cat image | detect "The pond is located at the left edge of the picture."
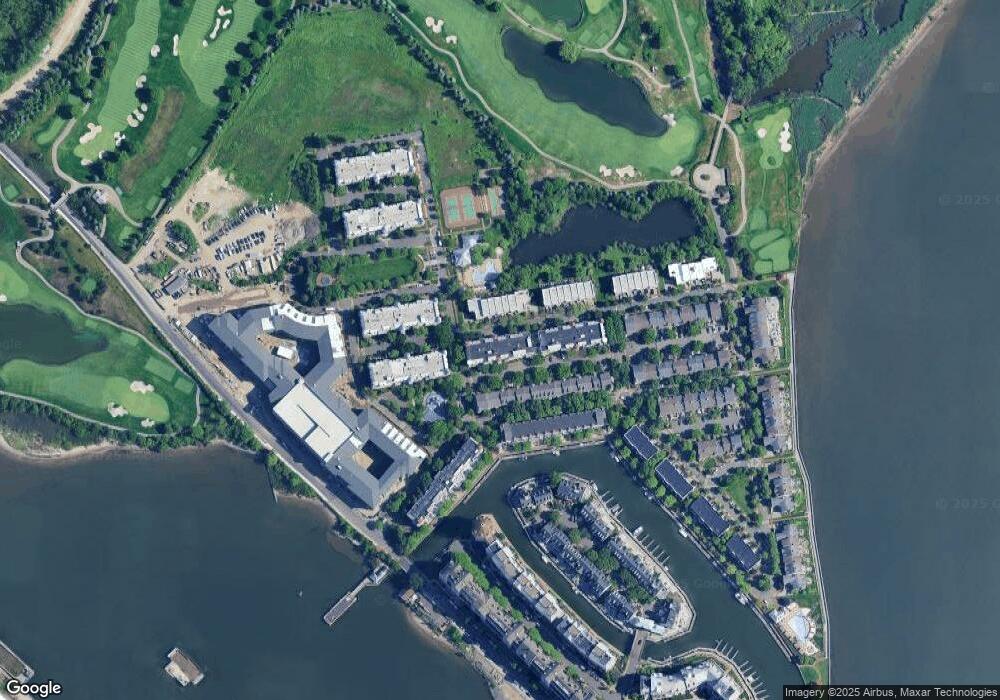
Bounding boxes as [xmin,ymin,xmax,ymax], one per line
[0,304,108,368]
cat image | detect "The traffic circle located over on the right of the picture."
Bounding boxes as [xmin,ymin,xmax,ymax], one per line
[691,163,729,195]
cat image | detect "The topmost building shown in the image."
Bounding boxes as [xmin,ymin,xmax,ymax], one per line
[334,147,414,186]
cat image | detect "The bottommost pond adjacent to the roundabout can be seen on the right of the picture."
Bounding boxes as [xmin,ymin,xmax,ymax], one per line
[511,198,699,265]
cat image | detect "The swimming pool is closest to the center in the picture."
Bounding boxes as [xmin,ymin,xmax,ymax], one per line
[460,258,502,288]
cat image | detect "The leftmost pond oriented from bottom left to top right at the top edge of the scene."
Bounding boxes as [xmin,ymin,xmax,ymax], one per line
[745,18,863,104]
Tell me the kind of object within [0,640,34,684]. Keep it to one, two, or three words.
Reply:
pier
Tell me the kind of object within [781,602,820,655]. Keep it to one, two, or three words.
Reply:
swimming pool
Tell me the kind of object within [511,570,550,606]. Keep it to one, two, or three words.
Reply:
building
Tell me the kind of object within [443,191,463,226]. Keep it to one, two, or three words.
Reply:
tennis court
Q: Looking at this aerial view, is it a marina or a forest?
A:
marina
